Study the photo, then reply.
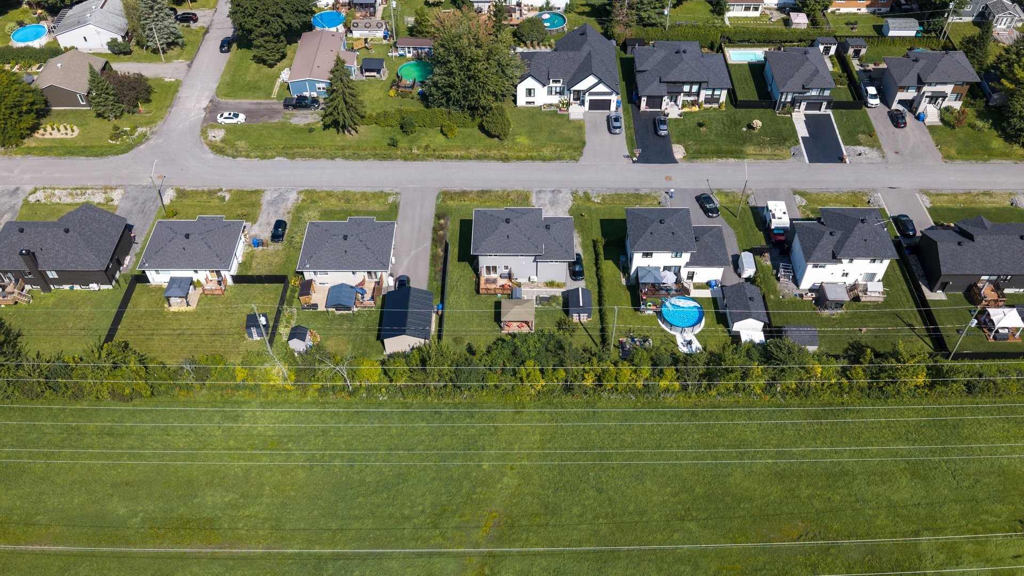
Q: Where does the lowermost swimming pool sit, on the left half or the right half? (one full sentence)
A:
You can find the lowermost swimming pool on the right side of the picture.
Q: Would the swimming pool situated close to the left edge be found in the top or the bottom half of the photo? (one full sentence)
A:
The swimming pool situated close to the left edge is in the top half of the image.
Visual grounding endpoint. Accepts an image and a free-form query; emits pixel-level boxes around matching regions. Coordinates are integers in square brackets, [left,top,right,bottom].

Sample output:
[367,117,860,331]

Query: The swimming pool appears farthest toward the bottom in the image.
[660,297,705,339]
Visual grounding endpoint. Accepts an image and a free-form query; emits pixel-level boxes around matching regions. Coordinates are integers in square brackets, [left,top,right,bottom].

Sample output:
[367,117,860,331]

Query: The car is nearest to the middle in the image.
[570,254,586,281]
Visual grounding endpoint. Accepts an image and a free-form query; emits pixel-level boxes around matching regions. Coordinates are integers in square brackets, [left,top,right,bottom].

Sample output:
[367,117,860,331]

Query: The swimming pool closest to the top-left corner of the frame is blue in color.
[9,24,52,49]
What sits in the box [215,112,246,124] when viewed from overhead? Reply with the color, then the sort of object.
white vehicle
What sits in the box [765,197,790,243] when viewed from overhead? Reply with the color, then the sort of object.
white vehicle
